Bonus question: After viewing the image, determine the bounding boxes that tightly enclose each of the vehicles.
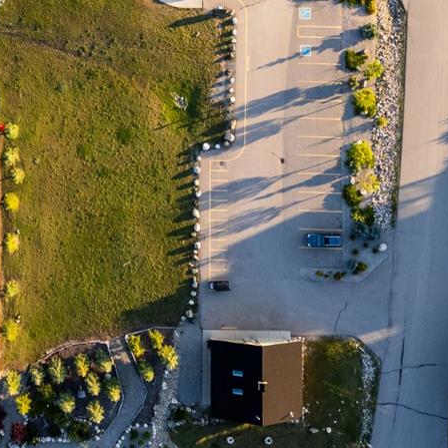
[208,280,229,293]
[303,232,344,250]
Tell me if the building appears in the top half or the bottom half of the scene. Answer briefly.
bottom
